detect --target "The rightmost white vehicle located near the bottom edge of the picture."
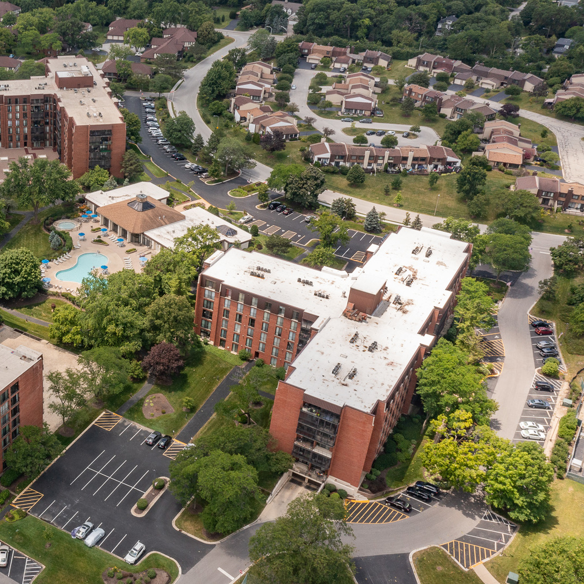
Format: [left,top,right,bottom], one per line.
[124,541,146,565]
